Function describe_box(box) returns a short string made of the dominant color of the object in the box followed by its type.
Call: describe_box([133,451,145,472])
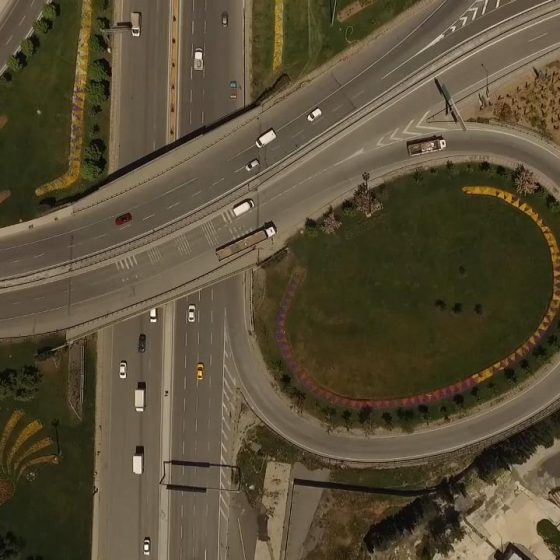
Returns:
white vehicle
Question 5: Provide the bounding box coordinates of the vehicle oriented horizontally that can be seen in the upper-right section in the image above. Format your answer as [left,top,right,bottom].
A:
[406,138,446,155]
